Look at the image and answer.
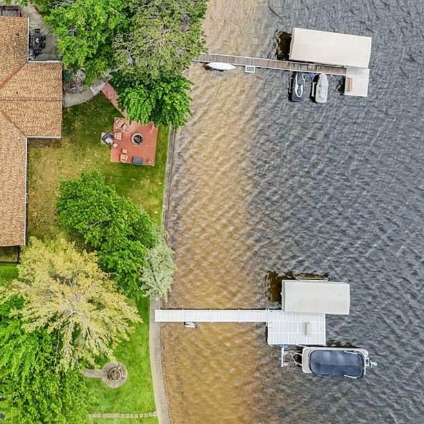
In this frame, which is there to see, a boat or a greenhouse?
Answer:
boat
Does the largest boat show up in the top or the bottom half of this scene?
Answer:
bottom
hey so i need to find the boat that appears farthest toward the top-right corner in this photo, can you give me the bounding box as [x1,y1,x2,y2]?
[310,73,326,103]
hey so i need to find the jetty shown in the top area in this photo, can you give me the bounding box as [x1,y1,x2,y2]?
[199,53,371,97]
